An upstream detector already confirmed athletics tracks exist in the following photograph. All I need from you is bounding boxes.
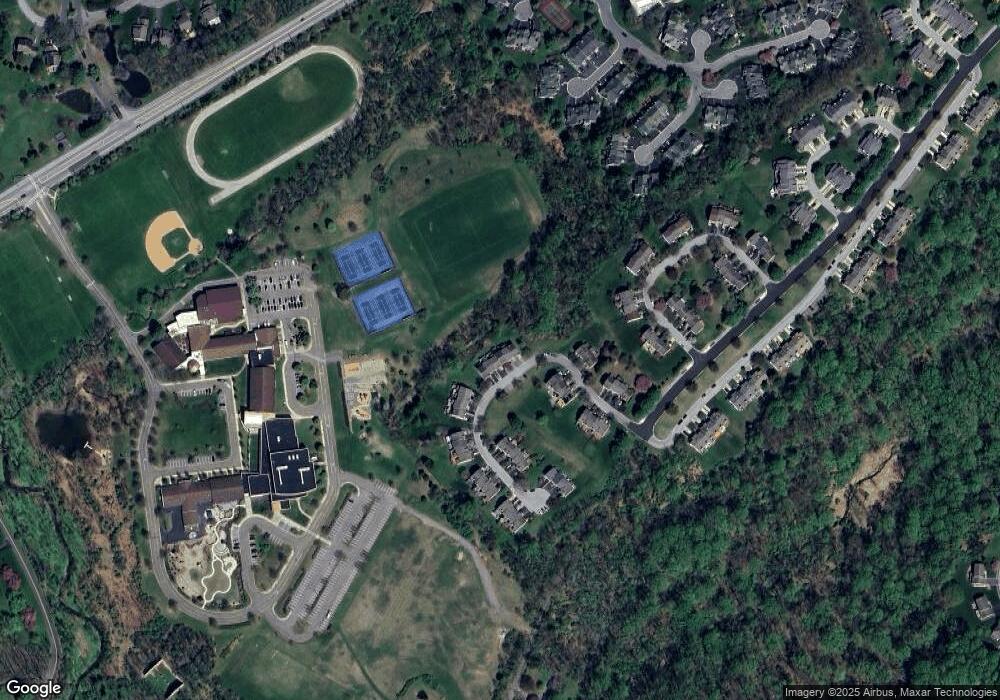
[187,45,364,204]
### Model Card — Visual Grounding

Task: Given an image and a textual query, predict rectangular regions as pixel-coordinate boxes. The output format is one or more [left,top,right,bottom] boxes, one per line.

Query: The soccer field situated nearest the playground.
[398,165,537,302]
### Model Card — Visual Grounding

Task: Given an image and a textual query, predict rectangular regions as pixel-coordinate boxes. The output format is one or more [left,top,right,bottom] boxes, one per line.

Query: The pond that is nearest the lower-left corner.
[37,411,92,461]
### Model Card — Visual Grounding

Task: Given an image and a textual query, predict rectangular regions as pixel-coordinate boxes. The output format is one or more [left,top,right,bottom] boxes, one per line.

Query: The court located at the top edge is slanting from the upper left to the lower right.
[538,0,574,31]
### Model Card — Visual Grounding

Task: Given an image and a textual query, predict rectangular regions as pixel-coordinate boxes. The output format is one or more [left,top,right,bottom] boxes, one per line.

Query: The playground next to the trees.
[344,356,388,421]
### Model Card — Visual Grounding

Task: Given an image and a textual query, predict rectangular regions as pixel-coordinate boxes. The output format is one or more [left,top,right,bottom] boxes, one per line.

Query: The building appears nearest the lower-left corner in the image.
[143,660,184,700]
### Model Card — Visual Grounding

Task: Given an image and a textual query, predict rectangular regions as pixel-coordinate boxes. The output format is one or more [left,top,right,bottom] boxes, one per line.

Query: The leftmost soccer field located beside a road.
[0,216,86,376]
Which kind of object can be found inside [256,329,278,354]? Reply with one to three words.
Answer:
building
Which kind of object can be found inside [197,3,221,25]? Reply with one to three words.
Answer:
house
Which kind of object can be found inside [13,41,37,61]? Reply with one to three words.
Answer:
house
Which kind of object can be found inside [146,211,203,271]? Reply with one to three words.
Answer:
baseball field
